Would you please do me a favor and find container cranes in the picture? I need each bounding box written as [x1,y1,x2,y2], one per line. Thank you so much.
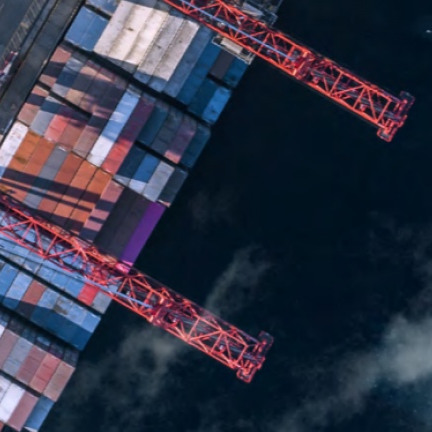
[0,179,274,377]
[156,0,408,139]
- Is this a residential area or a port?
port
